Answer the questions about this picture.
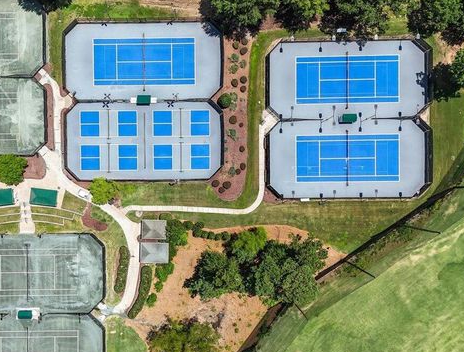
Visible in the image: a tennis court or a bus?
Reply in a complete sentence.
Visible in the photo is a tennis court.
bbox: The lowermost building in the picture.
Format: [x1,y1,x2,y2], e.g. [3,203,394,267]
[139,242,169,263]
